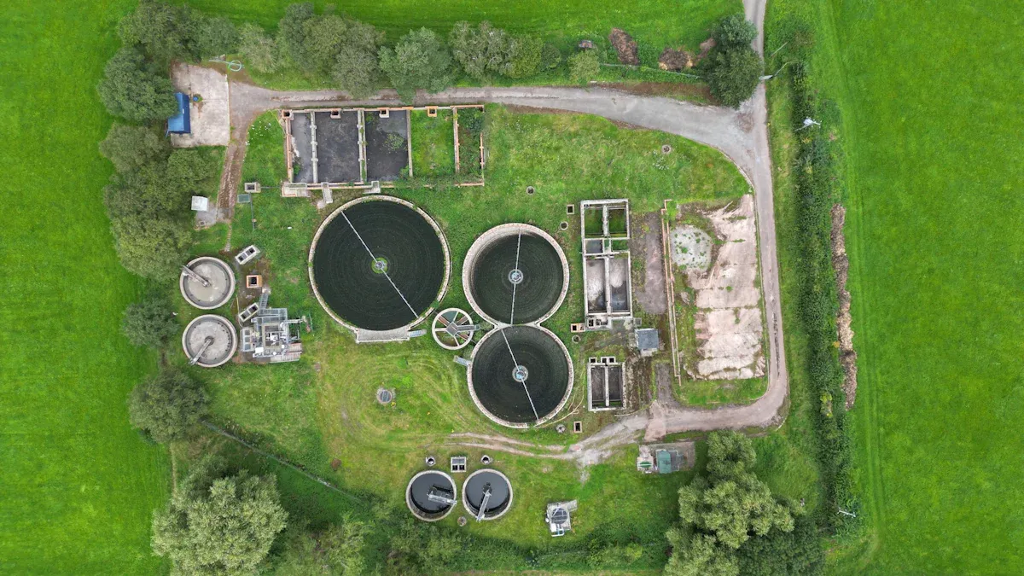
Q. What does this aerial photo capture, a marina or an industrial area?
industrial area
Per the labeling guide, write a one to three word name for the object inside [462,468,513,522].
storage tank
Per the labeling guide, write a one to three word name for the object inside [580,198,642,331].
storage tank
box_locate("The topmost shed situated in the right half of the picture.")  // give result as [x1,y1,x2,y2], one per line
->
[635,329,658,356]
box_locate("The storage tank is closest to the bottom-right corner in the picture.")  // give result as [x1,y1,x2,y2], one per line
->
[587,355,626,411]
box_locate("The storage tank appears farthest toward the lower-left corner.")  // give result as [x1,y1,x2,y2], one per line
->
[182,312,240,368]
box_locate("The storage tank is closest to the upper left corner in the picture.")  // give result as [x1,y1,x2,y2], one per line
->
[177,255,238,311]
